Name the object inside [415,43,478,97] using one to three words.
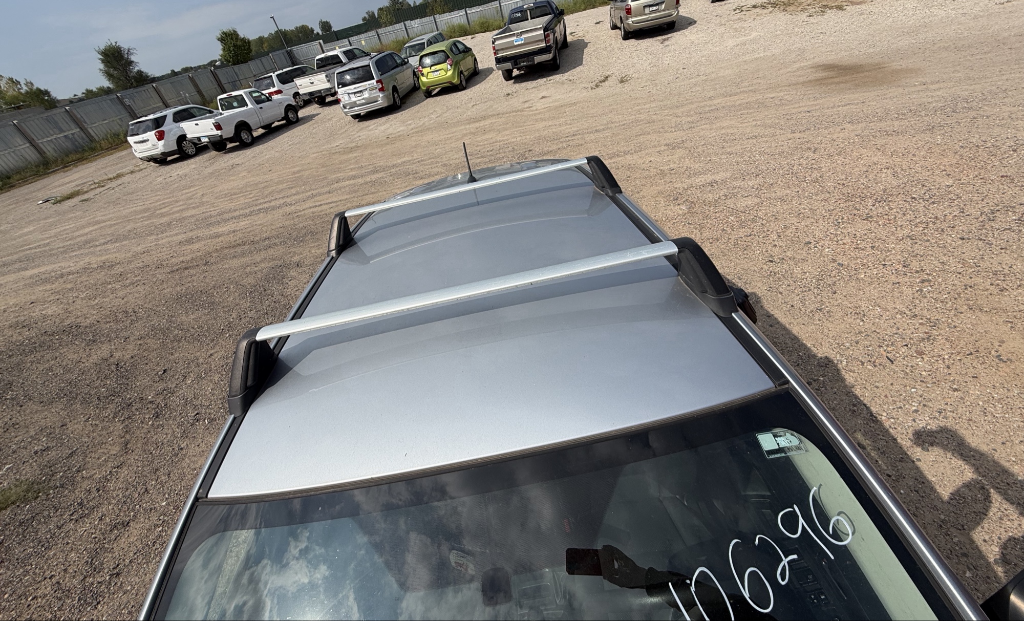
car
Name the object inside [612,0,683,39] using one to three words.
car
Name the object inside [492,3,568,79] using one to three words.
truck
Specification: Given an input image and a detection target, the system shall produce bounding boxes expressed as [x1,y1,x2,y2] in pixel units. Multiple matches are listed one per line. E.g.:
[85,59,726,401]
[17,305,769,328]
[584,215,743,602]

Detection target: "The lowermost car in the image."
[134,141,1024,621]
